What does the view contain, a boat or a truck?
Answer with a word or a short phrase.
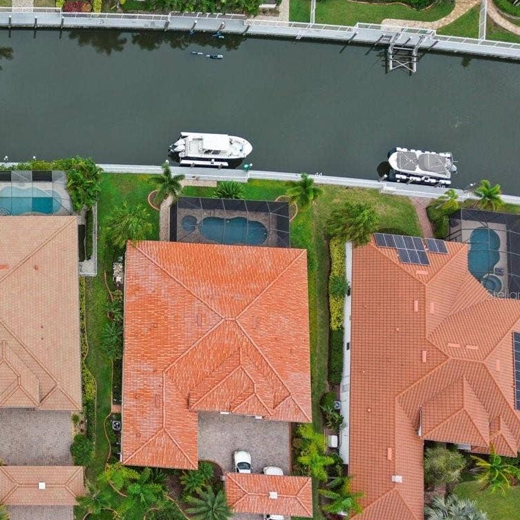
boat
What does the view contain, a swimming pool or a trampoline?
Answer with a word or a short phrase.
swimming pool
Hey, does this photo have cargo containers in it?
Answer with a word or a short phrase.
No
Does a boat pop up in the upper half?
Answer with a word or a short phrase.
Yes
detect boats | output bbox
[387,152,456,184]
[207,52,224,59]
[192,50,205,56]
[167,133,253,164]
